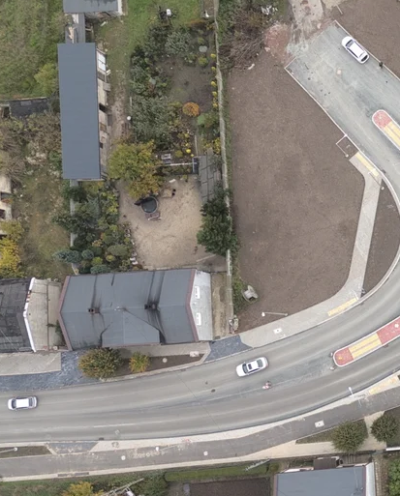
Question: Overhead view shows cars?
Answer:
Yes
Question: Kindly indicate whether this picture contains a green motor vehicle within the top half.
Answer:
No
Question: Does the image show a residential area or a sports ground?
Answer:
residential area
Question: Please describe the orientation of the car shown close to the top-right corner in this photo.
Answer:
diagonally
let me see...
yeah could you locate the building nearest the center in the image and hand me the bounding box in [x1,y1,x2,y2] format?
[57,268,211,351]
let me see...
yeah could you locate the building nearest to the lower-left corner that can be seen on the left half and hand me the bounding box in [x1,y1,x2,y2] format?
[0,278,50,353]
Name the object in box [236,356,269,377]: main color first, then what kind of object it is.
white car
